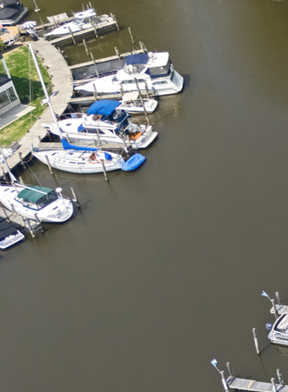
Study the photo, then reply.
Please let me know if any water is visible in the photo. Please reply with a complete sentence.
Yes, there's water in this view.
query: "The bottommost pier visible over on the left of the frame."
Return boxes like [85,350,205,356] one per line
[0,198,44,235]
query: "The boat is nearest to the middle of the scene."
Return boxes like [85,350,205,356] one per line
[121,157,146,173]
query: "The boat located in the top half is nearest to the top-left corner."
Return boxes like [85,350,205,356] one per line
[0,0,33,26]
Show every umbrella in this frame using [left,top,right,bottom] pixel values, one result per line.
[18,20,40,34]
